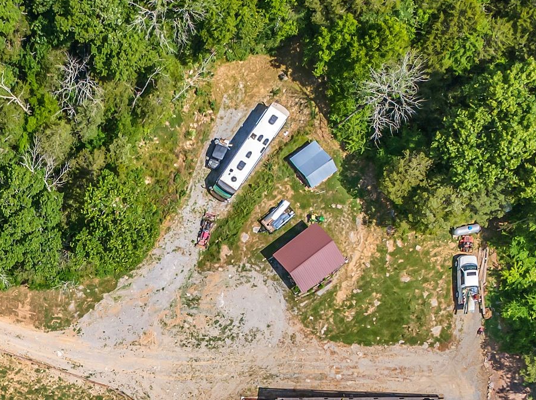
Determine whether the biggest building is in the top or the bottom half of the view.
bottom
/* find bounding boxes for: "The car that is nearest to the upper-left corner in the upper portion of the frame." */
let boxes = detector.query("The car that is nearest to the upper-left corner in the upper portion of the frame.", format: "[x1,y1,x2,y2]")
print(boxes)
[203,140,230,171]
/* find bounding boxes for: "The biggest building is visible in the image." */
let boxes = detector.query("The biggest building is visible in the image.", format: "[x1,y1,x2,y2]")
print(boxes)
[268,223,345,307]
